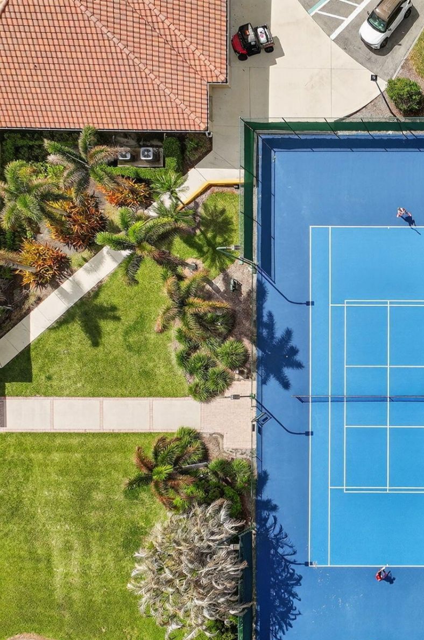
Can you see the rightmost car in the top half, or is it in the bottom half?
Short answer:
top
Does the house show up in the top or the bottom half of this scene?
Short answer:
top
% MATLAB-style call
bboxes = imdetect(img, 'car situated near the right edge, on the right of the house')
[361,0,417,47]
